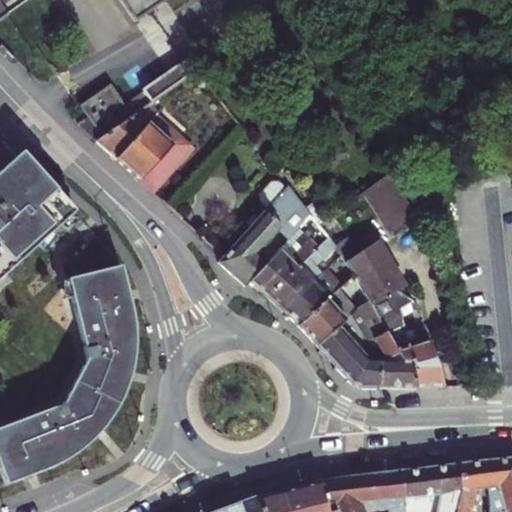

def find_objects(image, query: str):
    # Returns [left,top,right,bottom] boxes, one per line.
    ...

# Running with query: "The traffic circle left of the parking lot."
[162,324,316,478]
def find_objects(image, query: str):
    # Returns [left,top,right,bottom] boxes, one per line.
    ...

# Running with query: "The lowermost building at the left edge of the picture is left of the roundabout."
[0,264,140,484]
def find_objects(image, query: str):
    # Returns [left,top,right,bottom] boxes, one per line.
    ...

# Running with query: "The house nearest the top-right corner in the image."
[362,176,409,234]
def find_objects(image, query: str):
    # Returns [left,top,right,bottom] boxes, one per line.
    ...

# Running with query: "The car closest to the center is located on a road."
[146,219,164,240]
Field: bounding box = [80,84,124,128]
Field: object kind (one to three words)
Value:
building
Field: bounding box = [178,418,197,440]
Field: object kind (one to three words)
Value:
car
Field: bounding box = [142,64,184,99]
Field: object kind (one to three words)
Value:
shed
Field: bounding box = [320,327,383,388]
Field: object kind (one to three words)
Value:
house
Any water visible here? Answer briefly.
No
